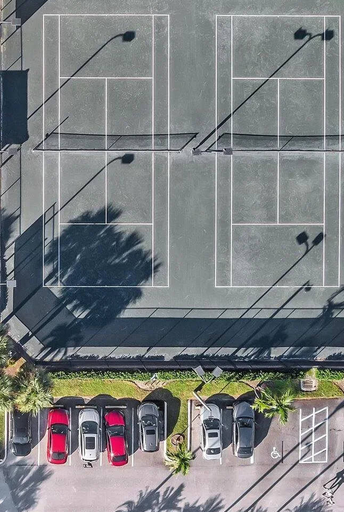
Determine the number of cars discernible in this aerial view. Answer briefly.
7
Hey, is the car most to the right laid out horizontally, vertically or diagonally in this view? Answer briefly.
vertically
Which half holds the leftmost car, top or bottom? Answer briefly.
bottom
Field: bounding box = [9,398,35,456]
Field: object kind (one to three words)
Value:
car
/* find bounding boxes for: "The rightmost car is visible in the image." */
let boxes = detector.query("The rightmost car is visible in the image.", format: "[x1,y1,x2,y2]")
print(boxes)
[230,399,258,458]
